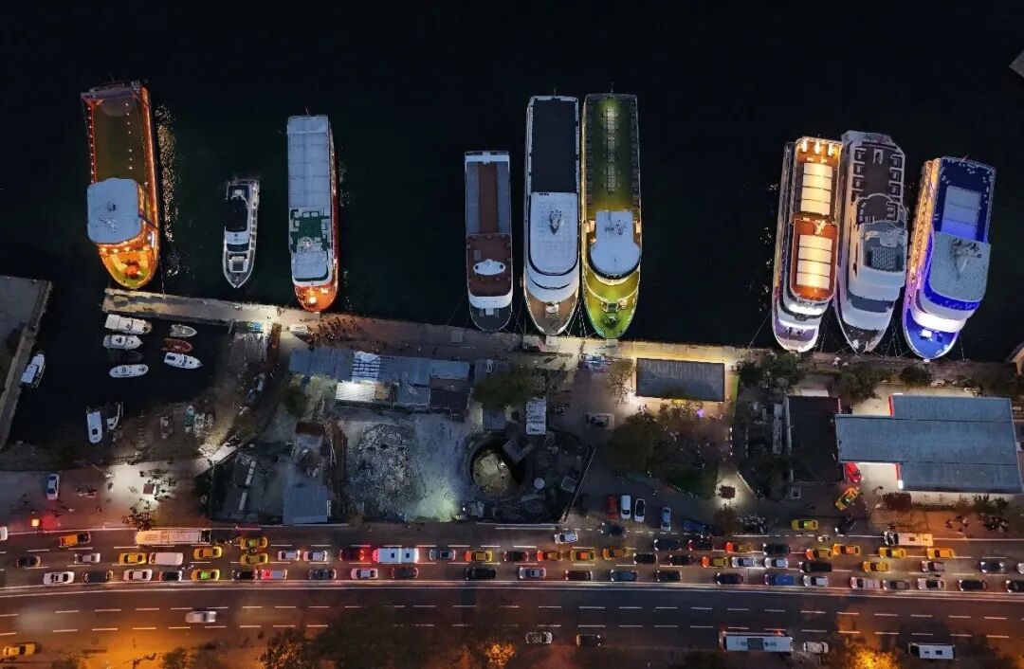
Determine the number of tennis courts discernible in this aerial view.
none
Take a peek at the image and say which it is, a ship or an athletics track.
ship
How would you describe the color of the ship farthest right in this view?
blue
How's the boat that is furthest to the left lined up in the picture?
at an angle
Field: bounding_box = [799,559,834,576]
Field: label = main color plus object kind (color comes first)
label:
black vehicle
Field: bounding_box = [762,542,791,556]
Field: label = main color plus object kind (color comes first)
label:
black car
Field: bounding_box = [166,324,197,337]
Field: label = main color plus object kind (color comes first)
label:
gray boat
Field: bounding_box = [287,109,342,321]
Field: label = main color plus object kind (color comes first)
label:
blue ship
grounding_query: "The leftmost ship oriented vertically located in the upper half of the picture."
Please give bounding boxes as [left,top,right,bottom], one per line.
[80,78,170,298]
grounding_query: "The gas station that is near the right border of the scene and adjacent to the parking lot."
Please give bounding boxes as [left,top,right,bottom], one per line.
[836,393,1023,494]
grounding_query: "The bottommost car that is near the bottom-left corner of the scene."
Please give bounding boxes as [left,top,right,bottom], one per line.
[3,642,36,658]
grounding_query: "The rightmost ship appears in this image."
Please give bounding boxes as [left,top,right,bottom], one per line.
[893,155,998,361]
